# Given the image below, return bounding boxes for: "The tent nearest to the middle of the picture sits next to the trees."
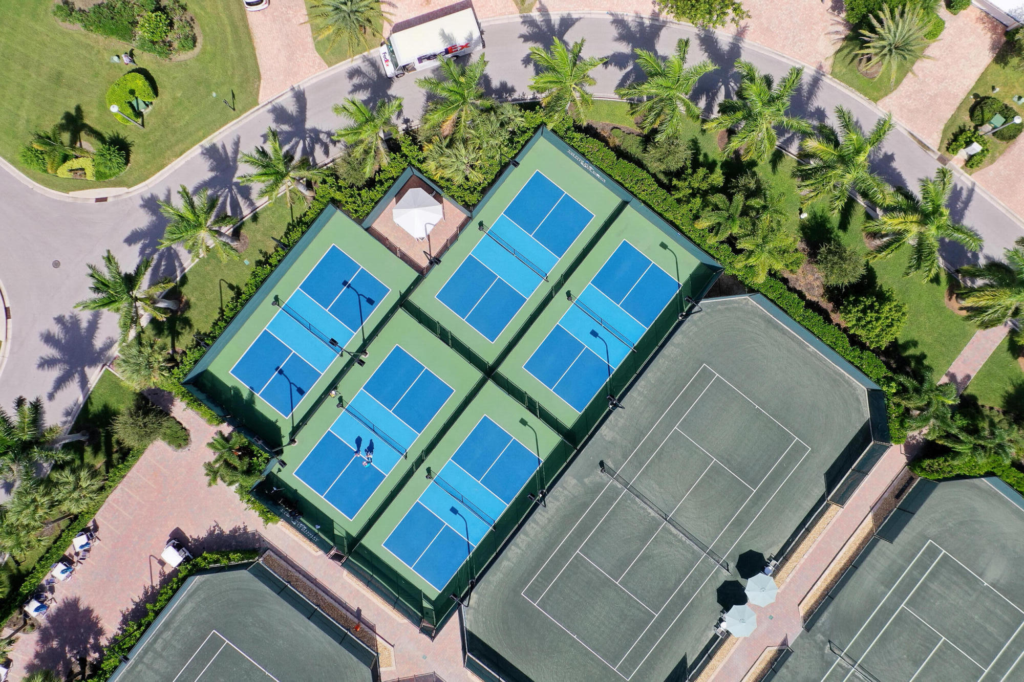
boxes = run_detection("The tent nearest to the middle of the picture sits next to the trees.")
[393,188,444,242]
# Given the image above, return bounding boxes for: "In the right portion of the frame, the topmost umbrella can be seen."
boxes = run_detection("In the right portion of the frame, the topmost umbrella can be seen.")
[740,568,781,610]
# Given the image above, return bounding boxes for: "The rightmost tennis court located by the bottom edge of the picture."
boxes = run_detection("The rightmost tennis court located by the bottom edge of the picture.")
[769,477,1024,682]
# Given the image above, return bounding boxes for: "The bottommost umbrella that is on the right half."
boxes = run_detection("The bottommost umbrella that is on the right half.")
[720,601,759,640]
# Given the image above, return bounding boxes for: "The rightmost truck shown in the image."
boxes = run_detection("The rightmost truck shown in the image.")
[379,10,483,77]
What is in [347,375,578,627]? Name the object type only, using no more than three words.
sports court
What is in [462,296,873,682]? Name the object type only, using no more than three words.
tennis court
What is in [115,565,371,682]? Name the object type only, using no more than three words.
tennis court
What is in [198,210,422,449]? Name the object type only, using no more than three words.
sports court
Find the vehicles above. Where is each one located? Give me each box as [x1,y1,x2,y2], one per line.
[244,0,268,12]
[379,10,483,77]
[158,539,192,571]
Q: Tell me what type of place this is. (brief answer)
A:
sports ground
